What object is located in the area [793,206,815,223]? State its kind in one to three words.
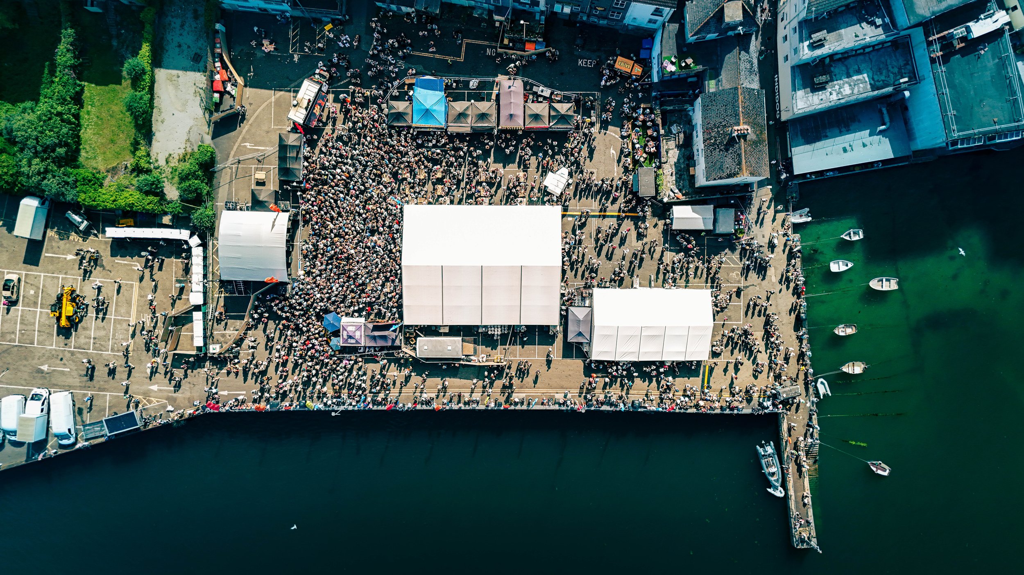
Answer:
boat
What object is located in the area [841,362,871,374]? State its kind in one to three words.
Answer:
boat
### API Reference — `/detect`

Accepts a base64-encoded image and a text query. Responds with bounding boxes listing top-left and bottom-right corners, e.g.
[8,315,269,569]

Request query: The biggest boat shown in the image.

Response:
[756,439,782,487]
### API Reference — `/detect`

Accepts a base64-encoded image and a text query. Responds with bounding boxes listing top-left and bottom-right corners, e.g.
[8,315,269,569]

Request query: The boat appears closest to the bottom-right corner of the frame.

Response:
[869,462,893,478]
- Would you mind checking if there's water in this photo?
Yes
